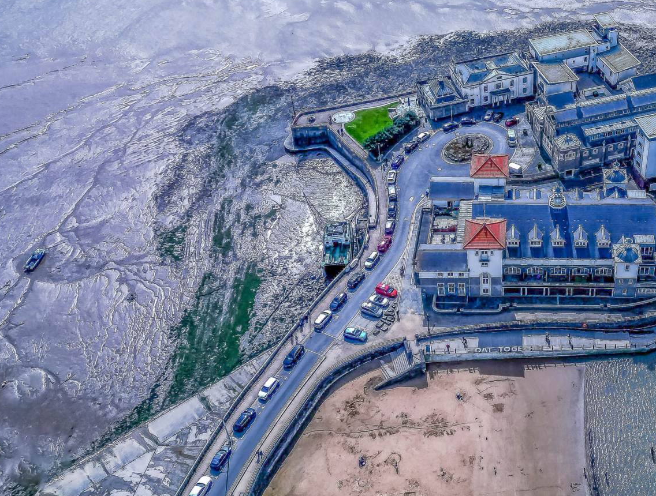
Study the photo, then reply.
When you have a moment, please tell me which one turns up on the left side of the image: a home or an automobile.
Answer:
automobile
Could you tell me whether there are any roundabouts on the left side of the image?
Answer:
No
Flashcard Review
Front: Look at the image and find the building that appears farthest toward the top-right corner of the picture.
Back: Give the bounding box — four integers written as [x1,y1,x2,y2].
[528,11,642,89]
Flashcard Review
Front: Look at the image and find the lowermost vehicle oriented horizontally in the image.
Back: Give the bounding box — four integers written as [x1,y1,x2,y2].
[341,327,369,342]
